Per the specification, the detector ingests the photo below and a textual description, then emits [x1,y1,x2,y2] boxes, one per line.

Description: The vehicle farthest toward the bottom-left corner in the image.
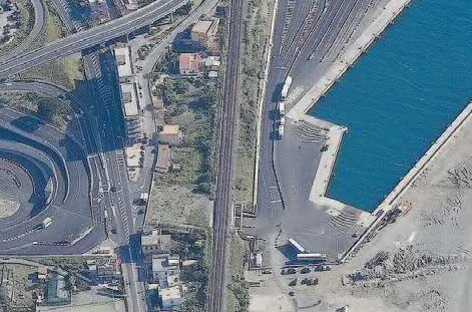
[40,215,54,229]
